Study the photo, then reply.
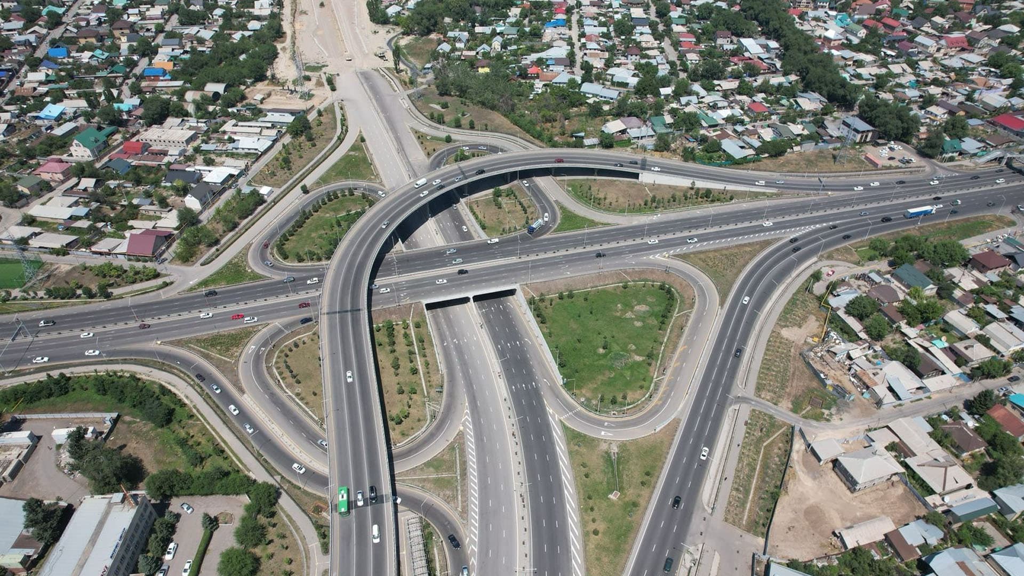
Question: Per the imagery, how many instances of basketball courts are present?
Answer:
0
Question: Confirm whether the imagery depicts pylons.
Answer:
Yes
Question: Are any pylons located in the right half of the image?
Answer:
Yes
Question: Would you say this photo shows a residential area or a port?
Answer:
residential area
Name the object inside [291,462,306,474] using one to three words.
vehicle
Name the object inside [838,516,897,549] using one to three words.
house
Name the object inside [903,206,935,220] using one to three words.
vehicle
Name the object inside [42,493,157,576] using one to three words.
building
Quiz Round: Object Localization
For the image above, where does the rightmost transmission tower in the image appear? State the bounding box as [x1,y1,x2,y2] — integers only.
[829,101,864,167]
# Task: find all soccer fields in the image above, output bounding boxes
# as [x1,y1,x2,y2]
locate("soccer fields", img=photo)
[0,250,43,289]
